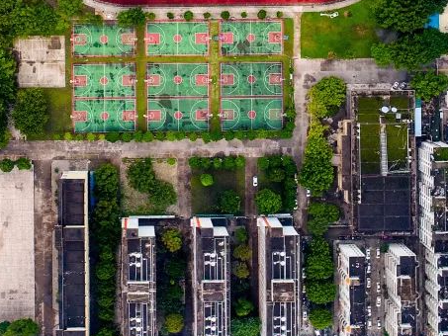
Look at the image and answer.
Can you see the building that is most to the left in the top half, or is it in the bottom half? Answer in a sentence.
Seen from above, the building that is most to the left lies in the bottom half of the view.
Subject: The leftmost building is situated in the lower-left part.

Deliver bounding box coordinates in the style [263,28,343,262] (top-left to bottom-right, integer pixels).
[54,164,94,336]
